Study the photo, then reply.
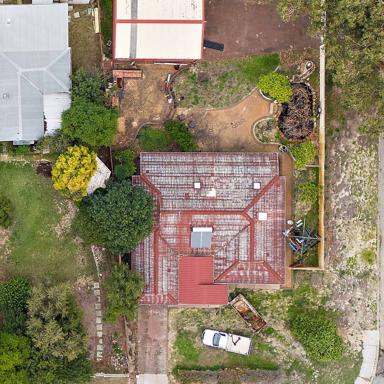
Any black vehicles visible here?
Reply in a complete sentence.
No, there isn't any black vehicle down there.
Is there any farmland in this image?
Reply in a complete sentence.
No, no farmland is visible.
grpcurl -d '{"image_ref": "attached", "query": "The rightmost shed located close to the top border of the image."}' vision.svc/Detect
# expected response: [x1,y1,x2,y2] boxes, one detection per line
[114,0,204,61]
